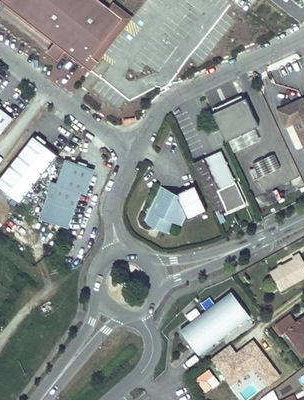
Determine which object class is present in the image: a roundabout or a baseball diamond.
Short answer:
roundabout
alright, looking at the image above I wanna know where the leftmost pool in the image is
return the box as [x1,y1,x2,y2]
[230,370,268,400]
